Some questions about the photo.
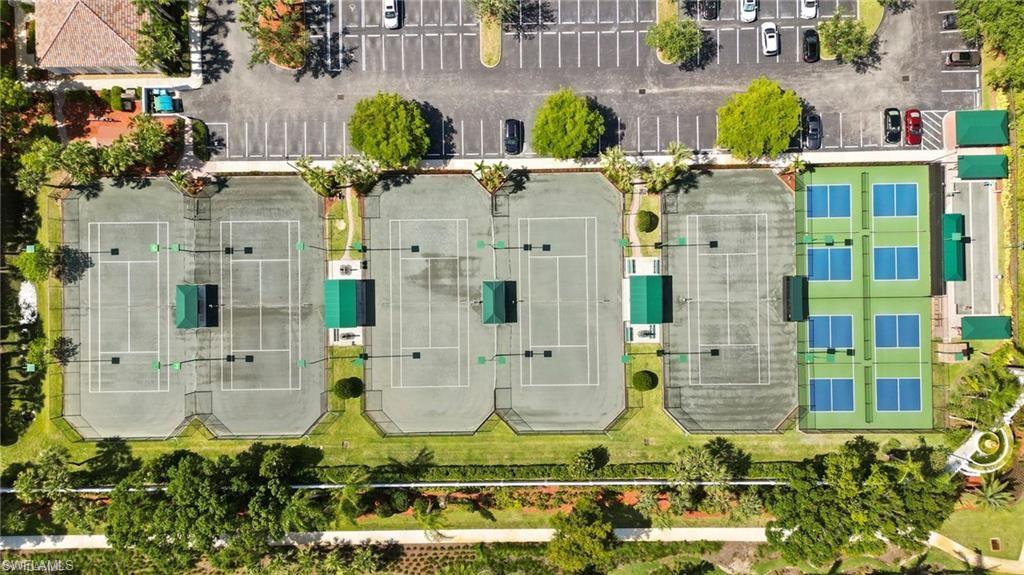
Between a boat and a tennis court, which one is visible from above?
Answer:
tennis court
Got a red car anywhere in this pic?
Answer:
Yes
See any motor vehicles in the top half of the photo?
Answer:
Yes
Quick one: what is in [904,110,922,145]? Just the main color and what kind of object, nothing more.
red car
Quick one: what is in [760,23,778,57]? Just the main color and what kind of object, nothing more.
white car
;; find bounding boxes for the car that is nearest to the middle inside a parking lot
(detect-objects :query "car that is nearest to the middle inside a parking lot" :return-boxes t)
[505,120,521,154]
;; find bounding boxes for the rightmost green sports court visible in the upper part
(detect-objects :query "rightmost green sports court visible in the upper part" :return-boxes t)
[865,163,931,296]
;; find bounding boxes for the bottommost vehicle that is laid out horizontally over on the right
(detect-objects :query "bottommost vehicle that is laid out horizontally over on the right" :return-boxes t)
[945,51,979,68]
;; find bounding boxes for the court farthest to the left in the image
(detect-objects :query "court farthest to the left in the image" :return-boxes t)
[62,178,193,438]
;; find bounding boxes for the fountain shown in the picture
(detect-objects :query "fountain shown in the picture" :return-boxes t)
[978,432,1002,455]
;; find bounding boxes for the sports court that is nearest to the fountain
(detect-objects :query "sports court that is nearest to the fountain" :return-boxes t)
[866,295,933,430]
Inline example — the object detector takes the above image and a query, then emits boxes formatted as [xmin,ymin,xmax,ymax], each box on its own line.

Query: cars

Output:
[702,0,717,22]
[802,30,819,64]
[945,51,979,68]
[383,0,399,29]
[800,0,817,20]
[883,109,901,143]
[804,115,821,150]
[740,0,757,25]
[760,23,778,57]
[505,120,521,154]
[904,110,922,145]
